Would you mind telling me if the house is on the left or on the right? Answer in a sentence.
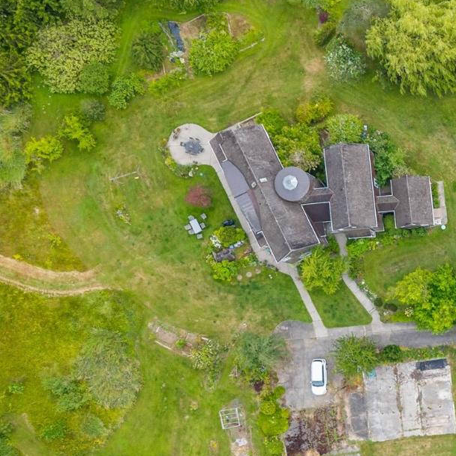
You can find the house on the right side of the picture.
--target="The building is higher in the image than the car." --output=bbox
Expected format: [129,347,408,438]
[209,114,435,263]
